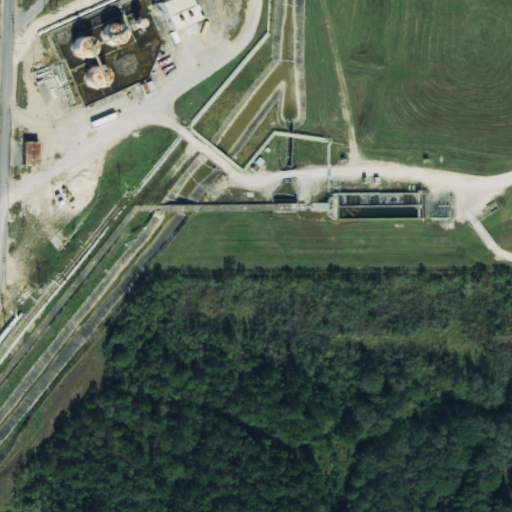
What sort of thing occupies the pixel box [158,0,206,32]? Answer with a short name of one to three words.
building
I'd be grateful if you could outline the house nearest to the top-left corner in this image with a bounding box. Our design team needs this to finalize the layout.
[24,142,41,166]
